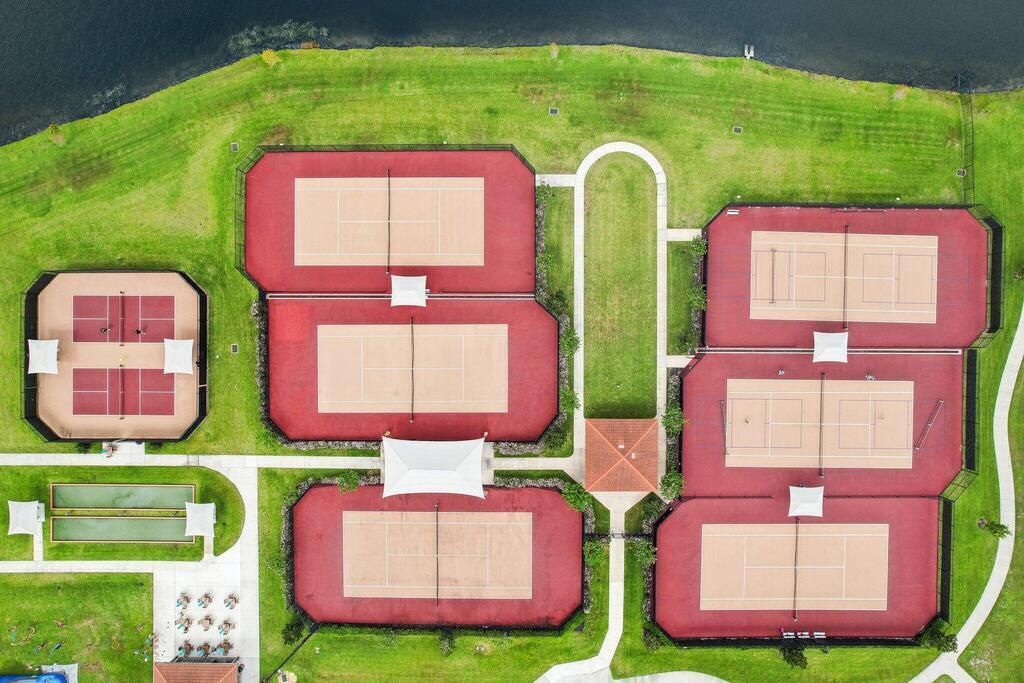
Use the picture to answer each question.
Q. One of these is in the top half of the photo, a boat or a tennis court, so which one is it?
tennis court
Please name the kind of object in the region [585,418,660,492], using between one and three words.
building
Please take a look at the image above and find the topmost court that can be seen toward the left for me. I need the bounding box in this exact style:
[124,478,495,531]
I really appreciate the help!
[246,150,535,293]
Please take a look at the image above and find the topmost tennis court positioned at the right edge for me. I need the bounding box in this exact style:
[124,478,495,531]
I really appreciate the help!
[700,206,988,349]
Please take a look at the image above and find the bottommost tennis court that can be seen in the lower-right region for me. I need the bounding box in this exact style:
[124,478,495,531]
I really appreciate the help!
[654,497,939,638]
